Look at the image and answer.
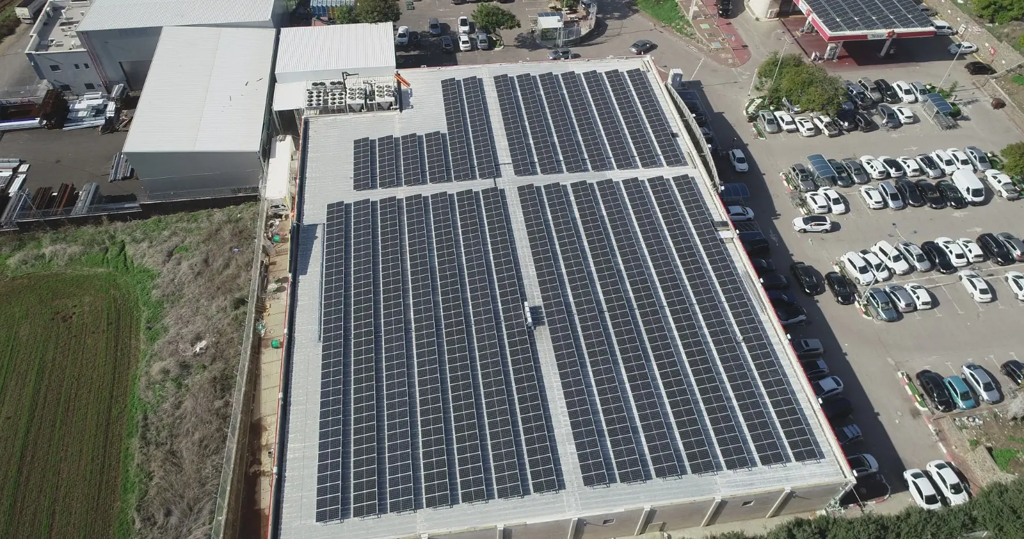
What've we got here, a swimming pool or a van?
van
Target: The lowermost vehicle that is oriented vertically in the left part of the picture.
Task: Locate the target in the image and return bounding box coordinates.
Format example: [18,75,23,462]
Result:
[265,135,294,225]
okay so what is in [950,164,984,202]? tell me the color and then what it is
white van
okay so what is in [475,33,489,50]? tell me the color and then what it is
gray car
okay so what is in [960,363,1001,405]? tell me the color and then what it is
gray car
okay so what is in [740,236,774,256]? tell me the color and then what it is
black car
